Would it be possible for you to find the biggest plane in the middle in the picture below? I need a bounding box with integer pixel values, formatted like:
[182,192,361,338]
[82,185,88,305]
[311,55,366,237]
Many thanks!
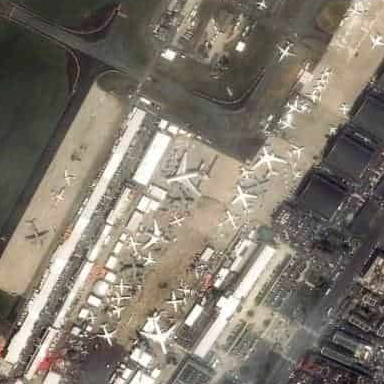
[167,152,214,195]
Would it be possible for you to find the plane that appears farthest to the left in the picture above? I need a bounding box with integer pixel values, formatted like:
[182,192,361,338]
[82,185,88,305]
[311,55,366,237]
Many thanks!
[26,218,49,246]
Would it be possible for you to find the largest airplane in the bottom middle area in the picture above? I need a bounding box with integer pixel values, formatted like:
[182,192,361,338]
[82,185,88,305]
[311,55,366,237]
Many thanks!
[135,310,178,355]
